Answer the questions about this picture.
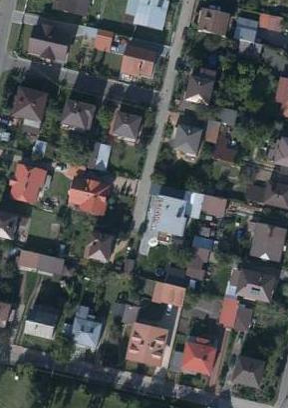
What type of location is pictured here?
residential area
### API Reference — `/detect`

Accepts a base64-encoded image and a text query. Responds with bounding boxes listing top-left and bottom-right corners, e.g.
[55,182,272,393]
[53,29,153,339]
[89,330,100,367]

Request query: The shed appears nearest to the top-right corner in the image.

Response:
[258,15,284,34]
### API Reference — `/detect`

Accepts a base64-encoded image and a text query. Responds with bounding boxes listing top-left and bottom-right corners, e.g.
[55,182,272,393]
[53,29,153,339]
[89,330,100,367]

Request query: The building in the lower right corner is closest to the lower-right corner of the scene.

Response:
[231,355,265,391]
